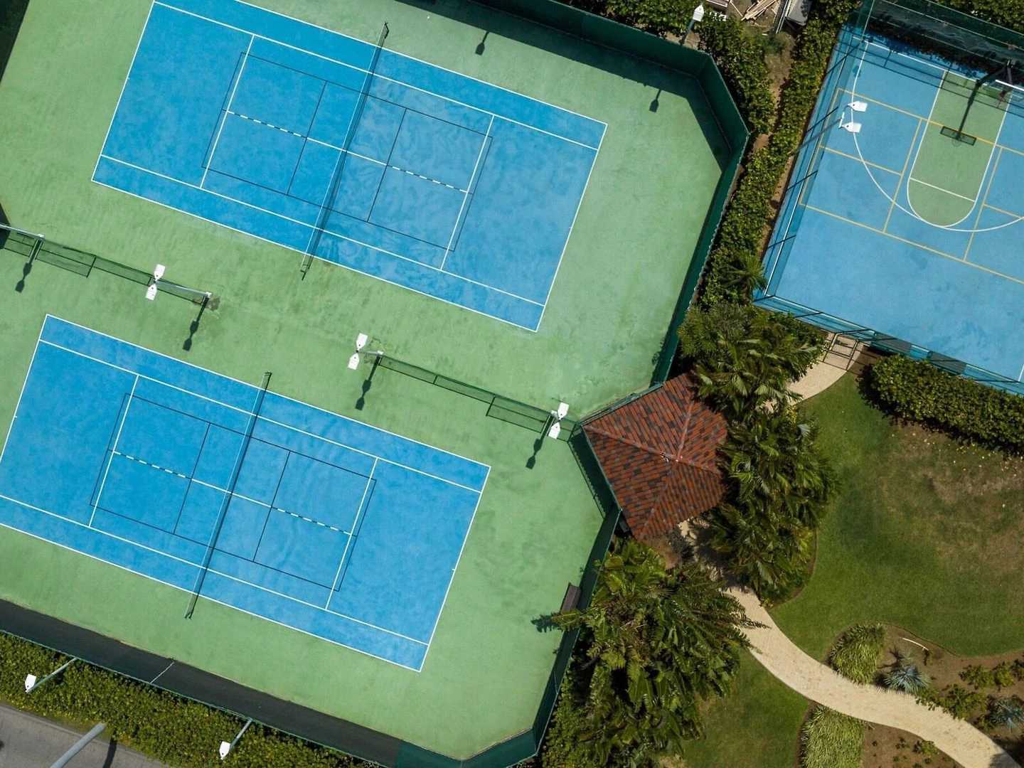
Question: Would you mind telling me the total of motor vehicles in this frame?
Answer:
none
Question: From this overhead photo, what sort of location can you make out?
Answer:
sports ground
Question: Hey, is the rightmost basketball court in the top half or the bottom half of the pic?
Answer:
top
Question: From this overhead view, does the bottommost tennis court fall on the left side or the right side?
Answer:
left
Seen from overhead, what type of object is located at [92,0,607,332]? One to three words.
tennis court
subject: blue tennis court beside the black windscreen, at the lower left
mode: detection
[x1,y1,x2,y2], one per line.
[0,314,490,672]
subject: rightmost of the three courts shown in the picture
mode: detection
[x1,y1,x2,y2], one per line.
[747,20,1024,400]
